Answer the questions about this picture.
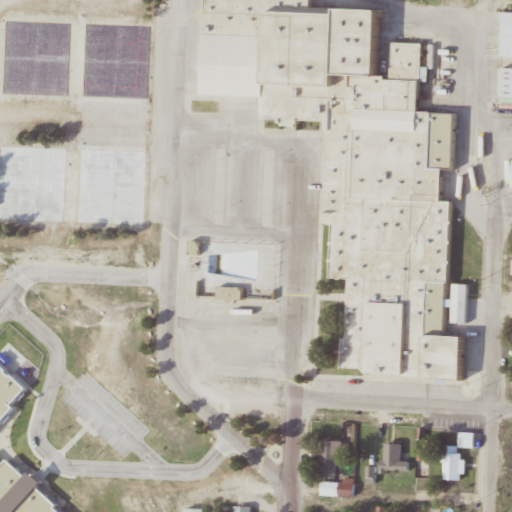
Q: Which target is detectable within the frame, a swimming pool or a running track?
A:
swimming pool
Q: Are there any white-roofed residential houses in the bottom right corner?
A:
Yes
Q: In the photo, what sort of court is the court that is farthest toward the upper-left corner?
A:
tennis court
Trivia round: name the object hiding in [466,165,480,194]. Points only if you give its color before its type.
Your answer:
white vehicle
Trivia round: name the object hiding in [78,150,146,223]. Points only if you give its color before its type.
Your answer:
white sports court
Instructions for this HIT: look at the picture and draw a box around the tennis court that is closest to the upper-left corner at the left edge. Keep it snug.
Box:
[4,22,71,96]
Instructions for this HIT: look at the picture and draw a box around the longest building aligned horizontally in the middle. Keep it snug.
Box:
[194,278,274,302]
